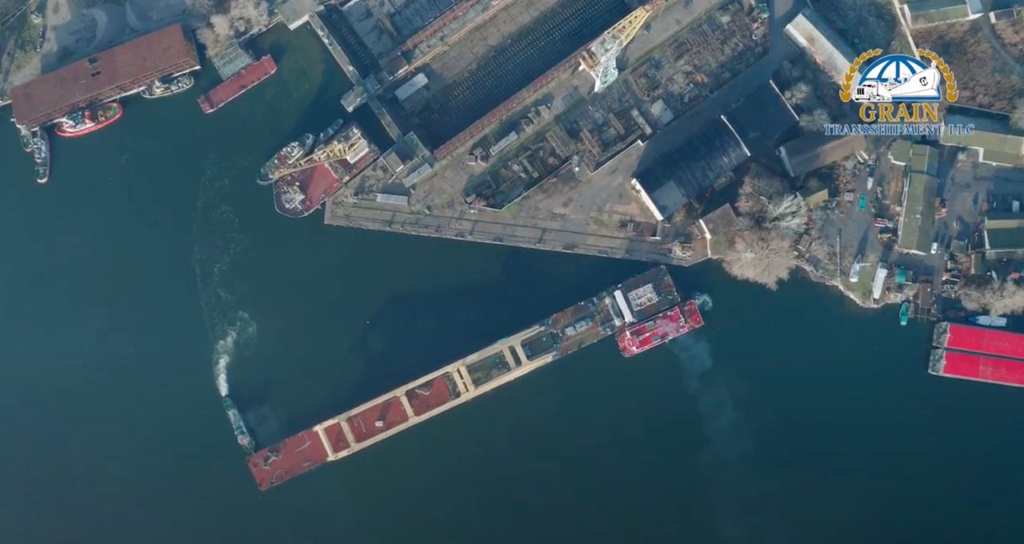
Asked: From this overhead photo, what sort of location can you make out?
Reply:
port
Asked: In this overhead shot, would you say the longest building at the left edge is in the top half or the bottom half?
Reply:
top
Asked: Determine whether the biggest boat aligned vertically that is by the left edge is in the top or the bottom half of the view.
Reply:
top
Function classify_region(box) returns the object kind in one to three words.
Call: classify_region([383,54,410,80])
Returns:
shed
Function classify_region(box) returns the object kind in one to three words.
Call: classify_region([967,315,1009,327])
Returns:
boat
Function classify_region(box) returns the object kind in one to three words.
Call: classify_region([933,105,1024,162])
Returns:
building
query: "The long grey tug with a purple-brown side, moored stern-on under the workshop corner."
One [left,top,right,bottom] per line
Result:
[27,127,53,183]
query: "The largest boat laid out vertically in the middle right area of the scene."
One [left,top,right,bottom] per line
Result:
[873,263,890,298]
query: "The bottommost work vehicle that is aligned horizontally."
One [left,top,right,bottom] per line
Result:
[666,242,699,255]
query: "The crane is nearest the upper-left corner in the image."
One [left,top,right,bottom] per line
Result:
[271,122,381,218]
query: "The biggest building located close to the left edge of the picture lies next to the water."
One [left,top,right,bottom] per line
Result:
[11,23,203,134]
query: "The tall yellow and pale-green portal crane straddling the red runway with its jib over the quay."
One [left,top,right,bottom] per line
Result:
[577,5,653,95]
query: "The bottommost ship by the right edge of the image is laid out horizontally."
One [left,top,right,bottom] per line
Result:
[924,349,1024,387]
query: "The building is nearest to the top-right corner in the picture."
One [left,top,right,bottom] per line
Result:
[985,6,1019,23]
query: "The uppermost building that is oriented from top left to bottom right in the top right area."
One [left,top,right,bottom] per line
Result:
[779,14,859,92]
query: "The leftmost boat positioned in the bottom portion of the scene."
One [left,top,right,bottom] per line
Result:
[221,395,257,454]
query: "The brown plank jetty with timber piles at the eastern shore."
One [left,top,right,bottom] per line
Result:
[910,282,941,323]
